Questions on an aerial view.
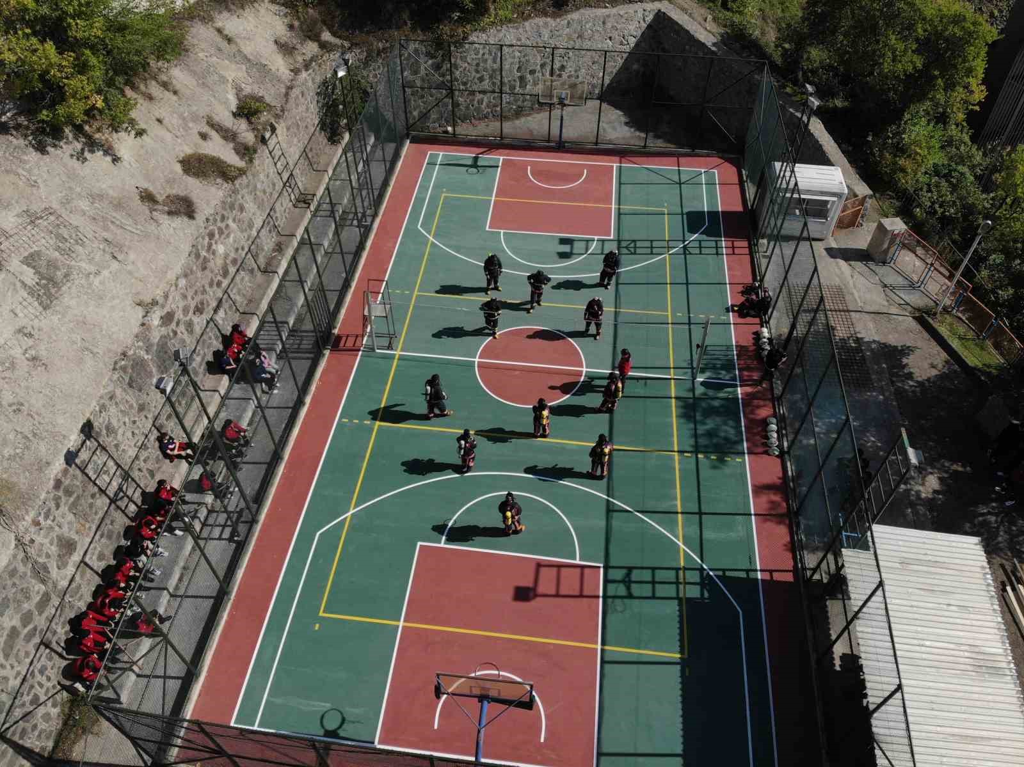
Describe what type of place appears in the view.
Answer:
sports ground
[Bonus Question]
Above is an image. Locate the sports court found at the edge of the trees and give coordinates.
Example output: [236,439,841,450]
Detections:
[171,136,832,767]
